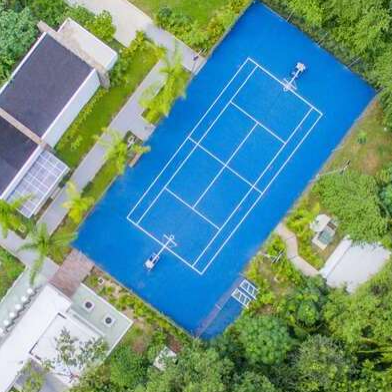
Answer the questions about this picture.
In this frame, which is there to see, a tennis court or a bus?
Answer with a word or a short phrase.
tennis court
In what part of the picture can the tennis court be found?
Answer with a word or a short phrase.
center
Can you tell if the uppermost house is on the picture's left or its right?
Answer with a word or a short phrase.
left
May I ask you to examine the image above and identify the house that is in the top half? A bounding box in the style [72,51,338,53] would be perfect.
[0,18,119,218]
